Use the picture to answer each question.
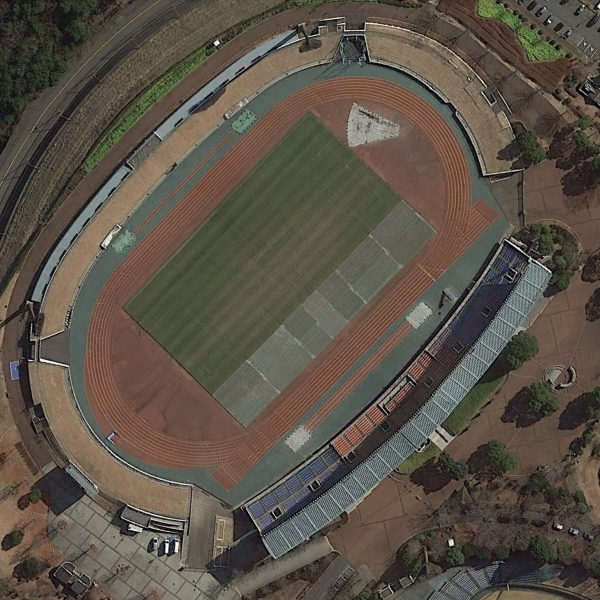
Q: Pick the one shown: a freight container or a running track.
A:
running track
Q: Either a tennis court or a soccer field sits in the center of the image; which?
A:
soccer field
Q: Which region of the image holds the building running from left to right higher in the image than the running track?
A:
top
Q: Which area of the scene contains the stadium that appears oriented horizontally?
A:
bottom right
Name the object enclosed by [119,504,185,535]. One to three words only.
building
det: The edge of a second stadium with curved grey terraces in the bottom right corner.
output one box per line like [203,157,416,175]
[415,547,600,600]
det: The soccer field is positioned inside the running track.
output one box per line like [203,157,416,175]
[121,112,435,428]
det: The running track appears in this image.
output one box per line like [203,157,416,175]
[69,62,512,510]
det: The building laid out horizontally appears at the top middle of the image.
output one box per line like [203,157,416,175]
[299,16,346,40]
